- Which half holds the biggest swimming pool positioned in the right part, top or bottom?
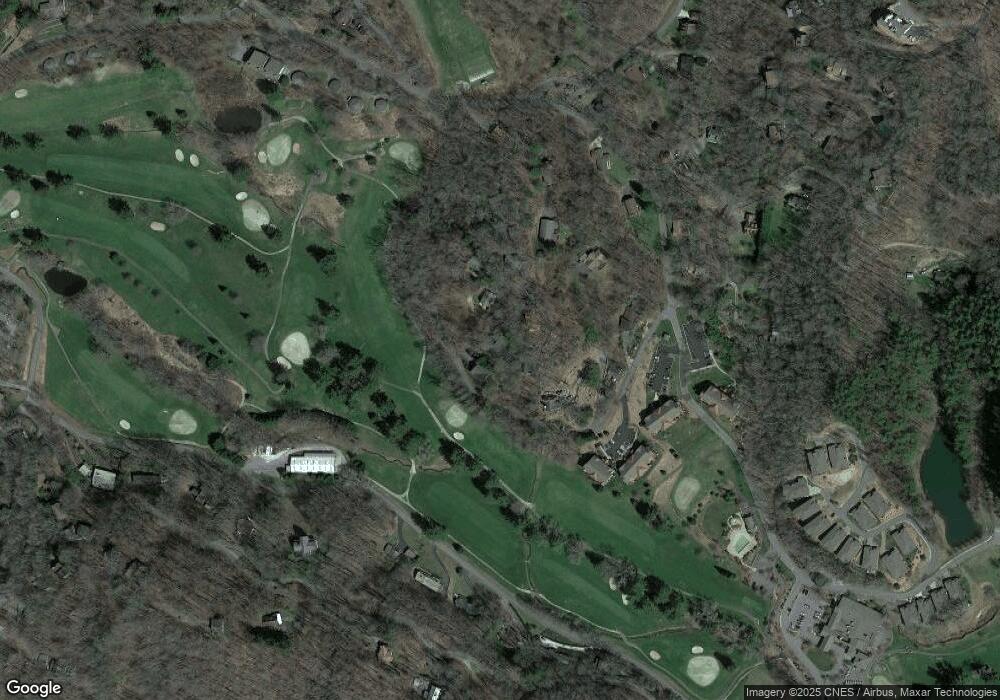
bottom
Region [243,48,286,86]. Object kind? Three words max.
building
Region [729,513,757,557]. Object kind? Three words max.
swimming pool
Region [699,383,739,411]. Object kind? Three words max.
house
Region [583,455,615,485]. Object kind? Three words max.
house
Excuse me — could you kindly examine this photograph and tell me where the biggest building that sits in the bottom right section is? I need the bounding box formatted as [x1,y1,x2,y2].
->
[821,591,892,658]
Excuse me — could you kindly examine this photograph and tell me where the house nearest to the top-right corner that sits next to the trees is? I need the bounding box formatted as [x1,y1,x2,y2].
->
[880,5,907,37]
